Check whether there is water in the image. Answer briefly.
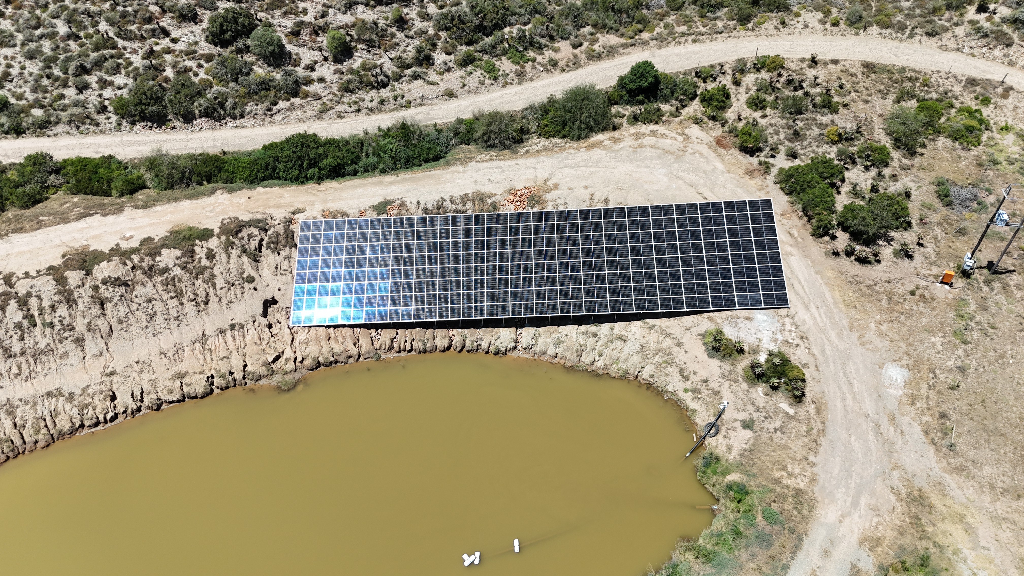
Yes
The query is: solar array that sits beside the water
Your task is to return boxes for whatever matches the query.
[291,199,789,332]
